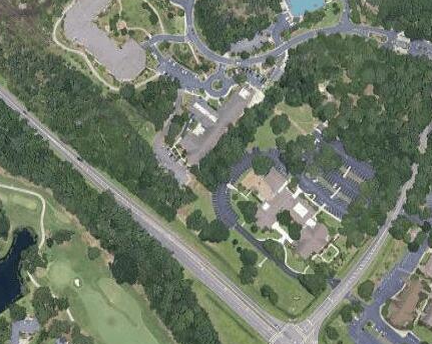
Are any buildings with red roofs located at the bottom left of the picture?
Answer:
No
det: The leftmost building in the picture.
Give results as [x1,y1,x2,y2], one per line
[9,316,43,344]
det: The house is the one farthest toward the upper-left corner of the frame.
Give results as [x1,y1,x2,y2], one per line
[65,0,147,82]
